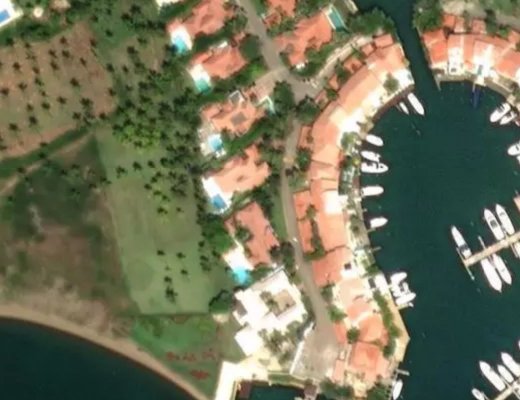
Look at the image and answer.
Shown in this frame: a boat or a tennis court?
boat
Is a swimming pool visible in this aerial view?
Yes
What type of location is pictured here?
residential area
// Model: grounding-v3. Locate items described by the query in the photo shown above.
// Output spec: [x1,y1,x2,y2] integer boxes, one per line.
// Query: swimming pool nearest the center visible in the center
[201,179,232,214]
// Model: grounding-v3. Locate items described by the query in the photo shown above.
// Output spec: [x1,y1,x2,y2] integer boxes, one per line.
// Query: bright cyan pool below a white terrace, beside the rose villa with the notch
[225,245,254,285]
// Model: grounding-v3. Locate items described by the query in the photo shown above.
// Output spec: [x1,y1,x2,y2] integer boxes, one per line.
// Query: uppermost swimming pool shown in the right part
[325,8,345,31]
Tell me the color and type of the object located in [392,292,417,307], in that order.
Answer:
white boat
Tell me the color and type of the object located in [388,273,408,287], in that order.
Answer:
white boat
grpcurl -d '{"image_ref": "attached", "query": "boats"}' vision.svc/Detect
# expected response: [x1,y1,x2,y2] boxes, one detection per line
[407,92,425,115]
[472,88,479,106]
[483,206,507,244]
[361,186,384,195]
[363,133,384,146]
[471,388,485,400]
[398,101,409,115]
[499,111,518,125]
[498,364,515,384]
[507,240,520,265]
[489,251,511,286]
[360,162,389,173]
[368,217,389,227]
[478,358,507,392]
[392,292,417,307]
[359,148,381,161]
[451,224,474,259]
[496,202,516,237]
[388,273,408,287]
[476,254,501,293]
[489,98,513,122]
[507,143,520,154]
[393,283,401,298]
[393,379,405,400]
[500,350,520,381]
